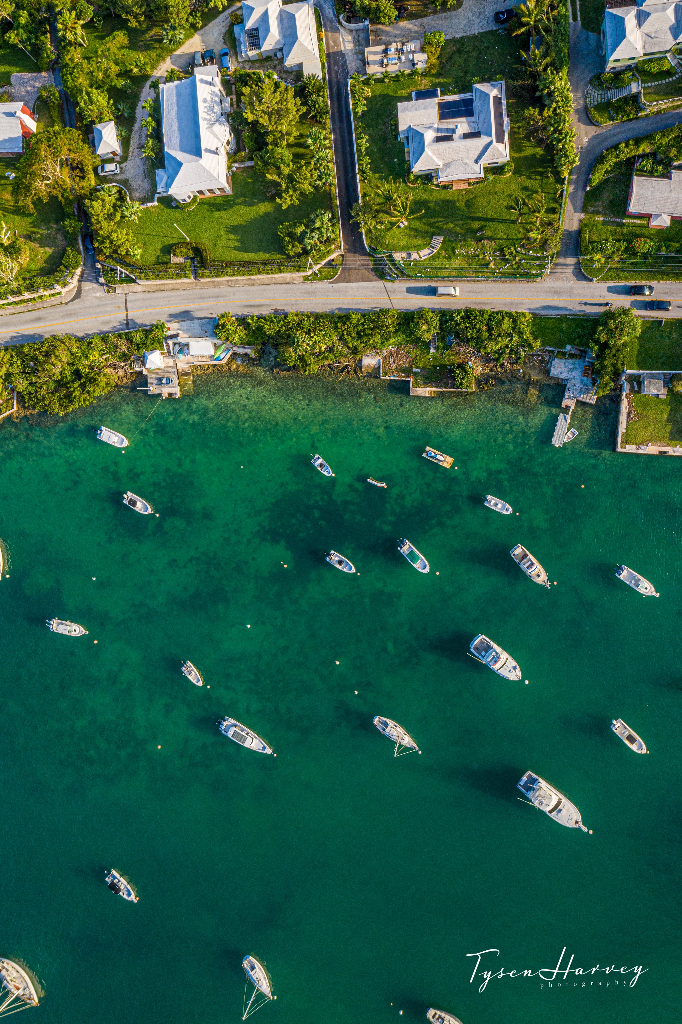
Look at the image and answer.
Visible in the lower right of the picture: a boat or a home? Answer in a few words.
boat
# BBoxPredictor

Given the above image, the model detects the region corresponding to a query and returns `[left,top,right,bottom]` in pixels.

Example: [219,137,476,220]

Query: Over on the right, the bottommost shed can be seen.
[640,373,663,395]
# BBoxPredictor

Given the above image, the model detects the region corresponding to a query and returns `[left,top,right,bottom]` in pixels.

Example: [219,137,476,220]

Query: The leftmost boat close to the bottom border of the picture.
[0,952,39,1019]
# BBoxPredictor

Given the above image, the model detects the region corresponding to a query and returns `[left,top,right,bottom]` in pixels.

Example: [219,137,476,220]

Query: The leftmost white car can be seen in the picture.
[99,164,119,176]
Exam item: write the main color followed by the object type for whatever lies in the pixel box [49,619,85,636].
white boat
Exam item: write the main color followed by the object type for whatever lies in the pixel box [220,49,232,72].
blue vehicle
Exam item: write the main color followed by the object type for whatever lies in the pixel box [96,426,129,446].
white boat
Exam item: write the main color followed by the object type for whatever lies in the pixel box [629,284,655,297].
black vehicle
